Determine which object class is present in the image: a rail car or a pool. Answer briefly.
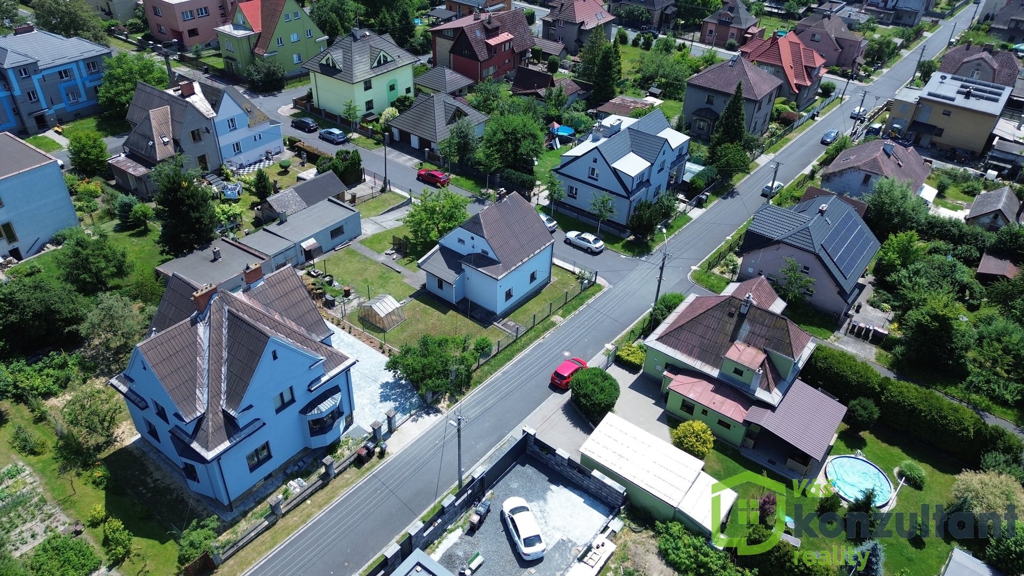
pool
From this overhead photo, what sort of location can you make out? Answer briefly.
residential area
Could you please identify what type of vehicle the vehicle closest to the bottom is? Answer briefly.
car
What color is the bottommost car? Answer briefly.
white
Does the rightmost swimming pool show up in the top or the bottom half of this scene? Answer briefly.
bottom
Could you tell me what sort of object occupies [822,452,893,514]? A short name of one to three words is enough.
swimming pool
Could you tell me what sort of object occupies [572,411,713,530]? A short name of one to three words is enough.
building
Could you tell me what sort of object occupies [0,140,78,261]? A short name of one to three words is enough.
house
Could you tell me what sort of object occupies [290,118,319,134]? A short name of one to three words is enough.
car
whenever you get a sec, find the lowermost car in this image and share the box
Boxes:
[500,500,550,563]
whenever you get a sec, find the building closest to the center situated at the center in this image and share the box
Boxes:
[412,181,558,316]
